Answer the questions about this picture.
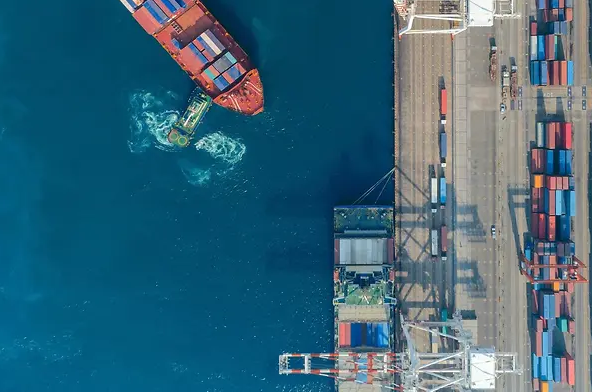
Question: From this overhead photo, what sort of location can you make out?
port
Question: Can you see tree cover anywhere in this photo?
No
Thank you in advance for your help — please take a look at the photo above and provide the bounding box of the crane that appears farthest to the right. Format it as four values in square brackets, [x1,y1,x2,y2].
[515,248,587,282]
